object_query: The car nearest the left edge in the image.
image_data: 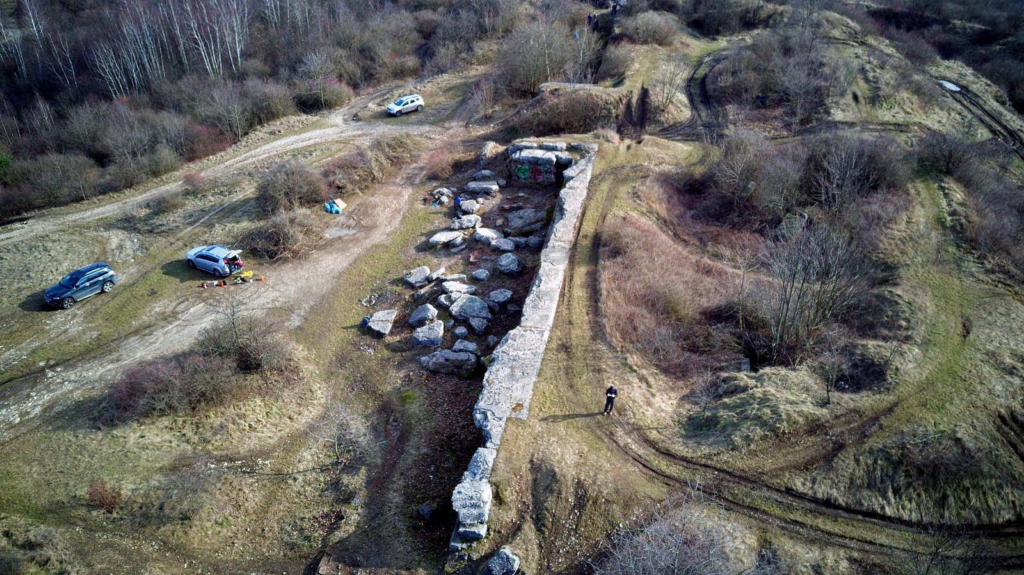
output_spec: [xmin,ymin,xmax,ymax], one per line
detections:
[44,266,118,309]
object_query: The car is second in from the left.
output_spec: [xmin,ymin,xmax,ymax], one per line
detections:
[185,244,239,276]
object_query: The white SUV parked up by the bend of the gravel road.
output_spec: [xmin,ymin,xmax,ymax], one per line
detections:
[389,94,426,116]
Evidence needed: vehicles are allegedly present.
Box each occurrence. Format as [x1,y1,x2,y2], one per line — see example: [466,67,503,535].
[44,266,118,309]
[389,94,426,116]
[185,244,239,276]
